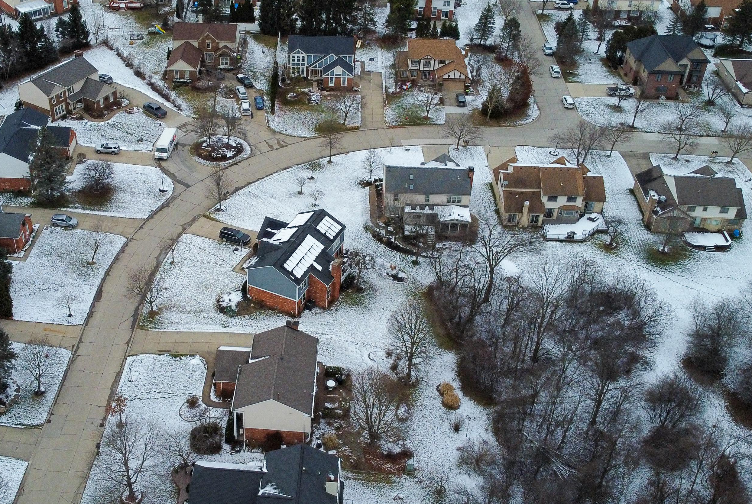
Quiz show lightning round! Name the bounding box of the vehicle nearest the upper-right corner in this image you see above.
[607,84,636,97]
